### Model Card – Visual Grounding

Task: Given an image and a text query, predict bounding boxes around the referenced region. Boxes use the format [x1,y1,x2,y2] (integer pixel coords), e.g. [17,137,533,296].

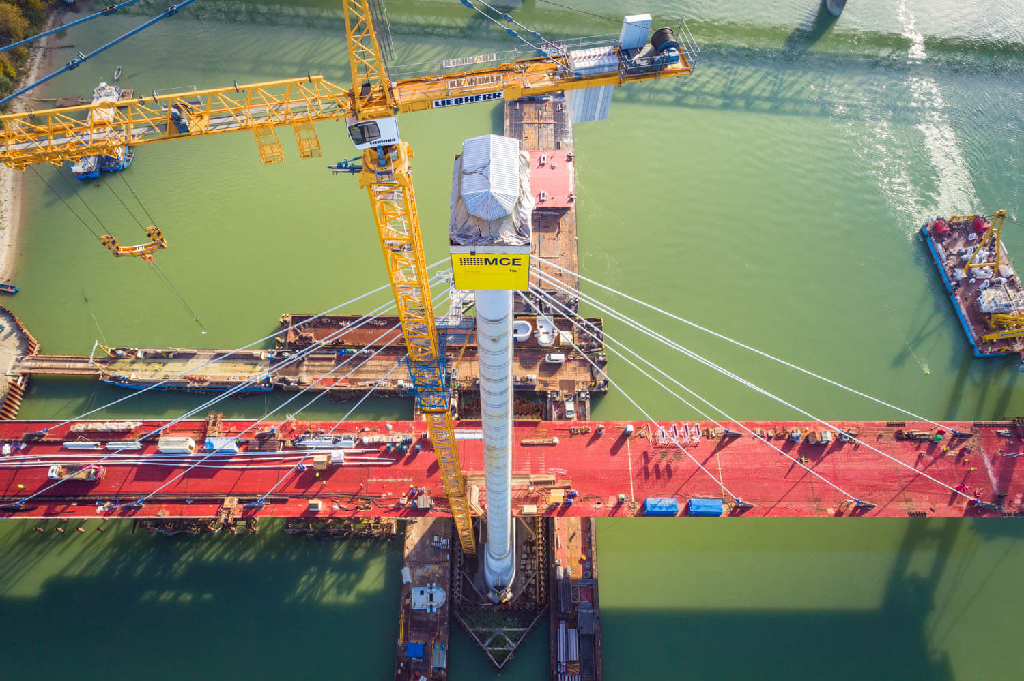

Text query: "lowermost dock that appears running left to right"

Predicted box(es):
[15,351,112,382]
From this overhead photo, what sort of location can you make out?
port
